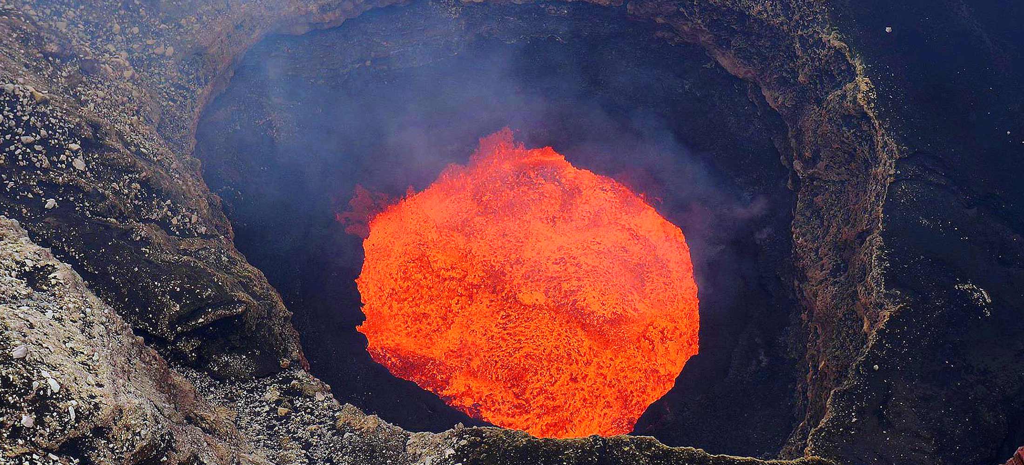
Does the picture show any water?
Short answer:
Yes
